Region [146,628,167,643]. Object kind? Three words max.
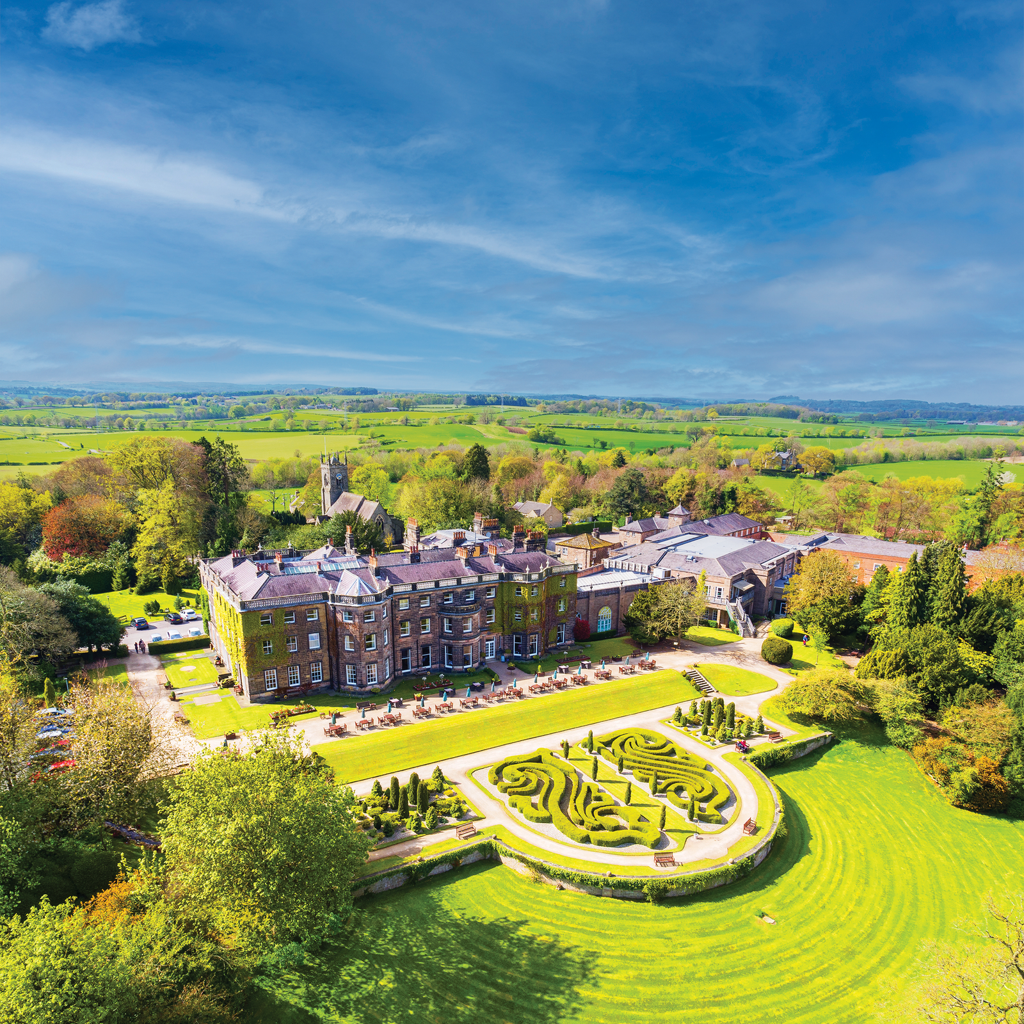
car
